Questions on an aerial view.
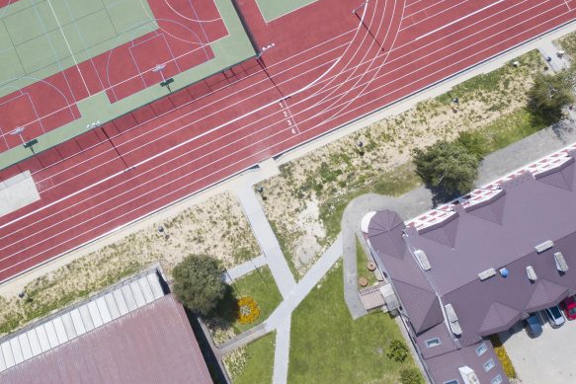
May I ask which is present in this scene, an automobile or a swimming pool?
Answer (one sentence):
The one in the frame is an automobile.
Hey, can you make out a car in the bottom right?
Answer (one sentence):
Yes, a car is visible in the bottom right.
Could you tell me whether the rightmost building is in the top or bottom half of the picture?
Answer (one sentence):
It is in the bottom half that the rightmost building appears.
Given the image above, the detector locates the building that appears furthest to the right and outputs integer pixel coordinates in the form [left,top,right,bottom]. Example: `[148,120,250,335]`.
[355,141,576,384]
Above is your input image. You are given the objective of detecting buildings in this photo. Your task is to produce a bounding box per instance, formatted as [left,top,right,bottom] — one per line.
[0,266,213,384]
[355,141,576,384]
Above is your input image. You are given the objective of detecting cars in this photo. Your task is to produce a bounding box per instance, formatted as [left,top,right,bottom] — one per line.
[560,294,576,324]
[543,302,569,334]
[520,313,546,345]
